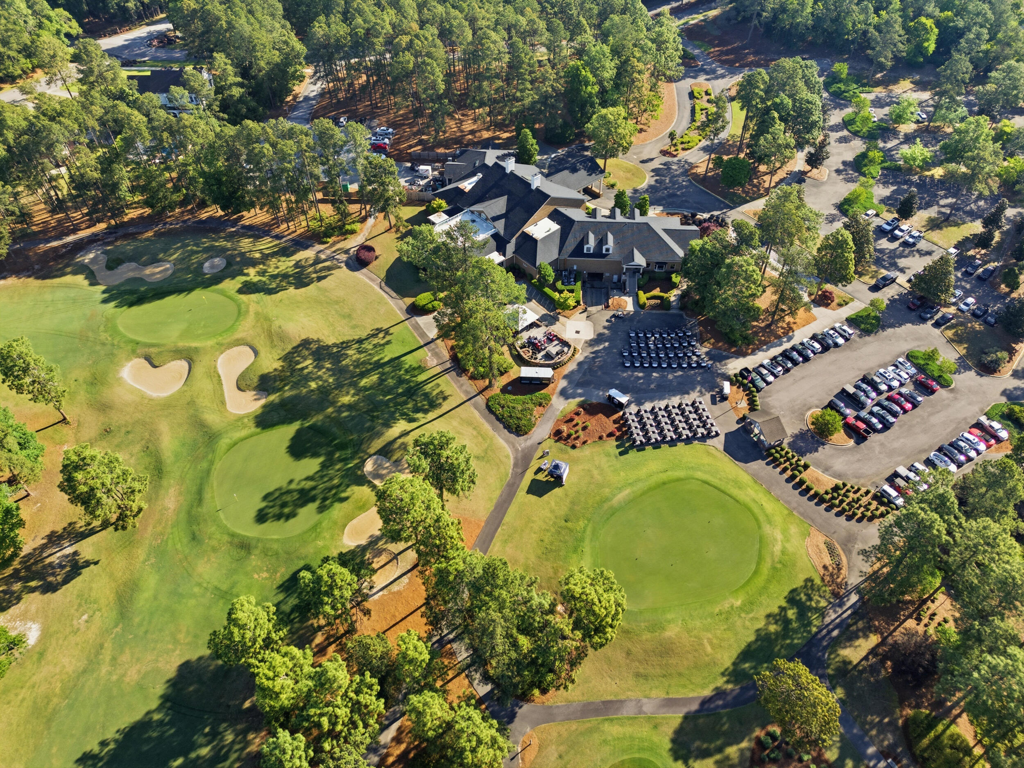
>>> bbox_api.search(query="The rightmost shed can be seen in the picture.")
[743,410,788,453]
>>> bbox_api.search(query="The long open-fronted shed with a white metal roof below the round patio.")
[520,367,554,387]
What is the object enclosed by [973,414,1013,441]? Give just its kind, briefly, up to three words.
truck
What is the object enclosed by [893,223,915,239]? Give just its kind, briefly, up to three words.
vehicle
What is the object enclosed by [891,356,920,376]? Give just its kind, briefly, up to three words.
car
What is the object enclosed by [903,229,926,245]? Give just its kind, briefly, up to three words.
vehicle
